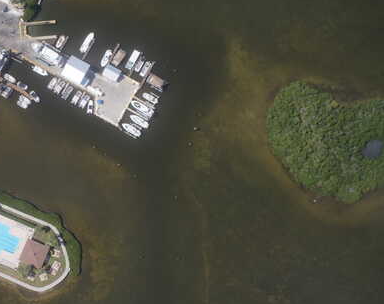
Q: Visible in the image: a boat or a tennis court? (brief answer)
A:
boat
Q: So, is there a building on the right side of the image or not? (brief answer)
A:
No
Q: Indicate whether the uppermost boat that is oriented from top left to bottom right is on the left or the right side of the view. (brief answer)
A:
left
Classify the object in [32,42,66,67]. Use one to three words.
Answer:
boat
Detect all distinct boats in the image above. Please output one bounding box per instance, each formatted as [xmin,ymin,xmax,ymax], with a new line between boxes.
[122,123,143,138]
[143,94,159,104]
[18,96,32,104]
[48,77,57,90]
[62,84,73,100]
[17,102,28,110]
[78,95,91,110]
[100,49,112,68]
[131,115,150,129]
[71,92,81,106]
[30,91,40,103]
[32,65,48,75]
[132,101,155,117]
[54,81,64,95]
[140,62,151,77]
[125,49,138,69]
[16,81,28,89]
[135,58,144,72]
[3,73,17,82]
[79,32,91,52]
[56,36,65,49]
[87,99,94,114]
[0,57,8,71]
[32,42,66,67]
